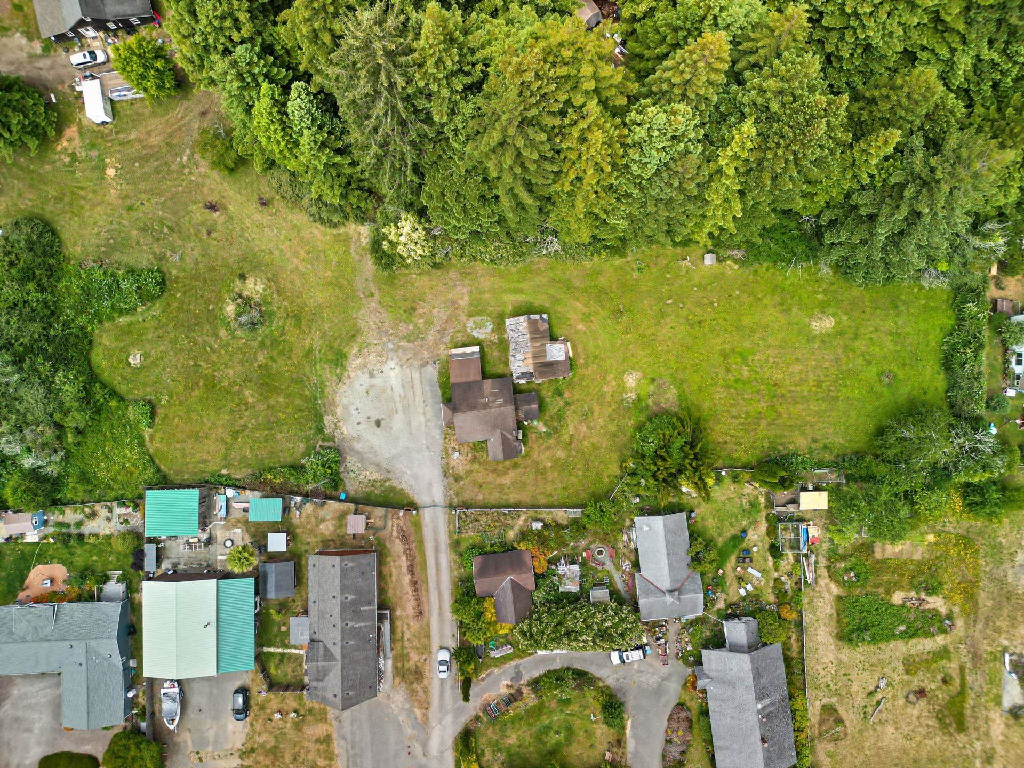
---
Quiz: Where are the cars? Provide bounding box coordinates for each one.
[69,48,107,67]
[232,689,248,719]
[611,647,646,665]
[436,648,451,679]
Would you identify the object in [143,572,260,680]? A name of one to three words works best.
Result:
building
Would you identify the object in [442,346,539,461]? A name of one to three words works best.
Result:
house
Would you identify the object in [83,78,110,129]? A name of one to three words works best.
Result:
trailer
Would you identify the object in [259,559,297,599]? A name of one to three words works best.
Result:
shed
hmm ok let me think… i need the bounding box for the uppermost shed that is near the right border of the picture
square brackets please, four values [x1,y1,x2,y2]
[989,300,1012,314]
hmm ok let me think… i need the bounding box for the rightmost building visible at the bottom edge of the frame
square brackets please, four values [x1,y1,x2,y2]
[692,615,797,768]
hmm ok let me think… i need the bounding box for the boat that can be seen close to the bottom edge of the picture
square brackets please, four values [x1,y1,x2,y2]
[160,682,178,731]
